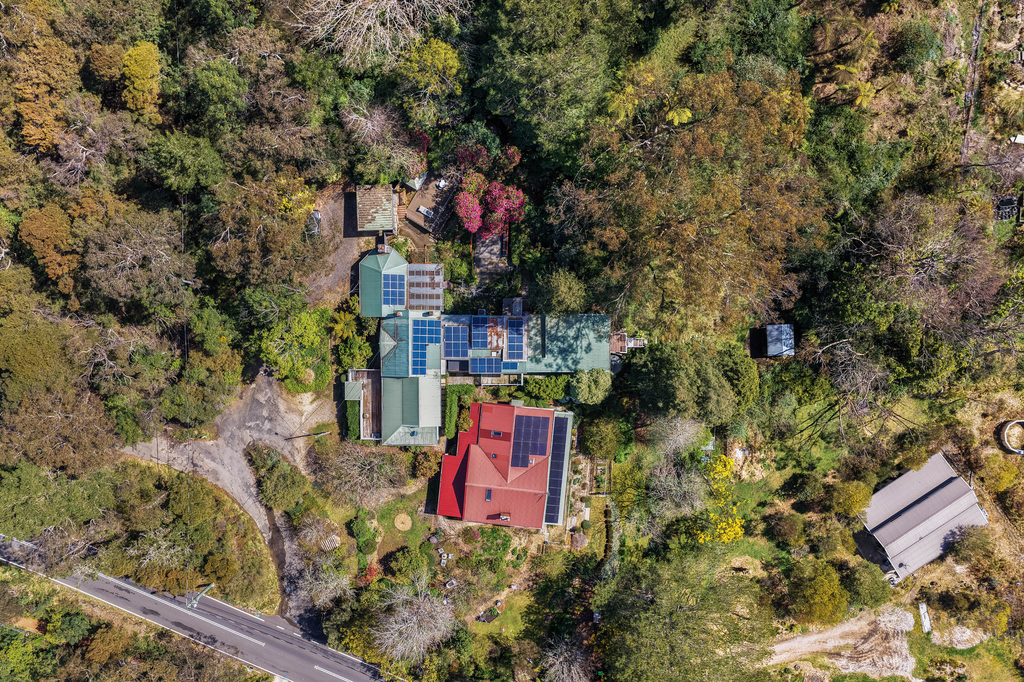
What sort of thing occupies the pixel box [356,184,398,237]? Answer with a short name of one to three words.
shed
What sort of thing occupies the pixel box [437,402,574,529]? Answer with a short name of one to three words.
house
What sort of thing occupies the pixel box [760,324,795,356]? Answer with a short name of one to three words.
shed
